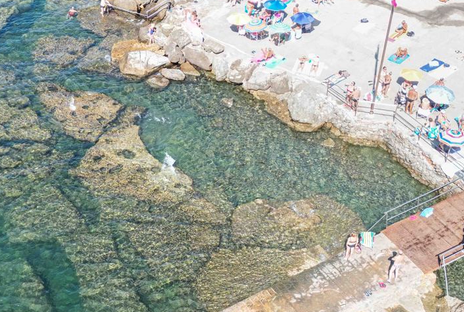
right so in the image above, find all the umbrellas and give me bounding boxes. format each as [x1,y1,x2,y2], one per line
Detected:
[269,22,291,49]
[426,85,455,118]
[245,20,267,44]
[264,0,288,23]
[400,69,423,98]
[291,12,314,40]
[437,128,464,161]
[228,12,251,31]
